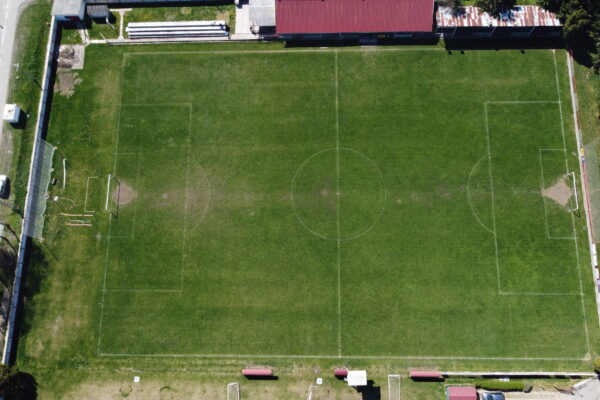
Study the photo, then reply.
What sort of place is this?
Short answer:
sports ground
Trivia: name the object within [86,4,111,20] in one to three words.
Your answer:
shed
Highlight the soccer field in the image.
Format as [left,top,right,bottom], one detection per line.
[90,44,599,364]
